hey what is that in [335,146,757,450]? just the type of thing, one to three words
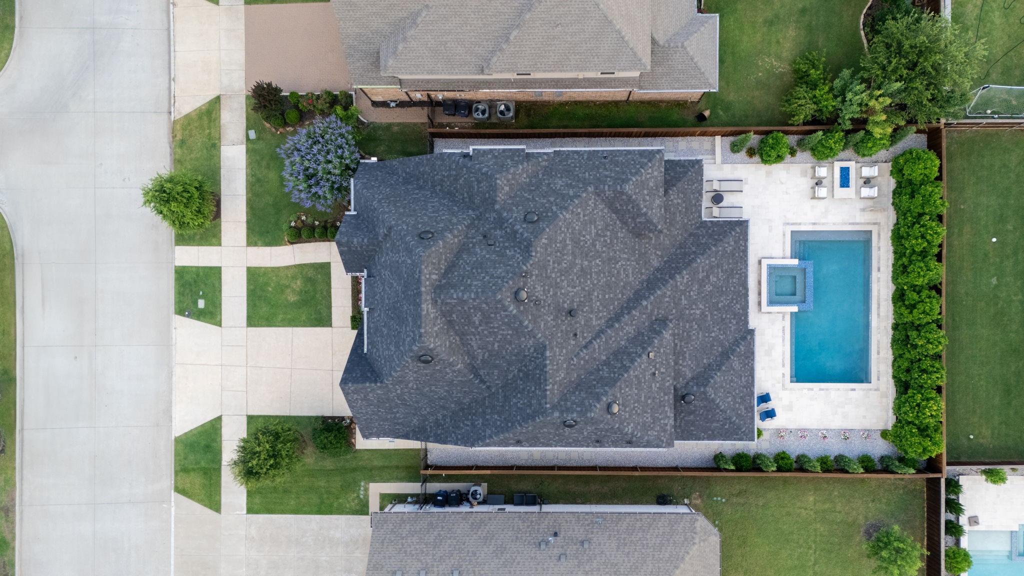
house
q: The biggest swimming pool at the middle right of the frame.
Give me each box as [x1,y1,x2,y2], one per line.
[783,222,880,392]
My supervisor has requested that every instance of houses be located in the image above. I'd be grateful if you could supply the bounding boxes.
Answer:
[332,0,721,105]
[335,146,757,450]
[366,496,723,576]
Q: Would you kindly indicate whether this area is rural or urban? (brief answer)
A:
urban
